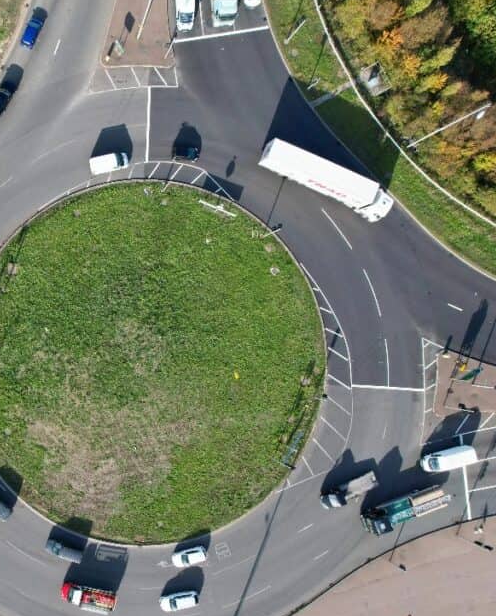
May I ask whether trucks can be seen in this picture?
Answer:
Yes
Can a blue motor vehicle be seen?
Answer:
Yes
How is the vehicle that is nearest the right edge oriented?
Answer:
horizontally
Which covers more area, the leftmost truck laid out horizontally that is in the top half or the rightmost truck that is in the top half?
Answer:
the rightmost truck that is in the top half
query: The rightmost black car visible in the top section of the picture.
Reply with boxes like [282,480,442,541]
[169,146,202,165]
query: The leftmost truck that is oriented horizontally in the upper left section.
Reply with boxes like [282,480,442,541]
[88,151,130,177]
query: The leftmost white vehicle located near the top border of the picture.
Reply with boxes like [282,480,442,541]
[174,0,196,31]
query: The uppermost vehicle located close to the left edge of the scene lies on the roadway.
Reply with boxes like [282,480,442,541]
[21,17,43,50]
